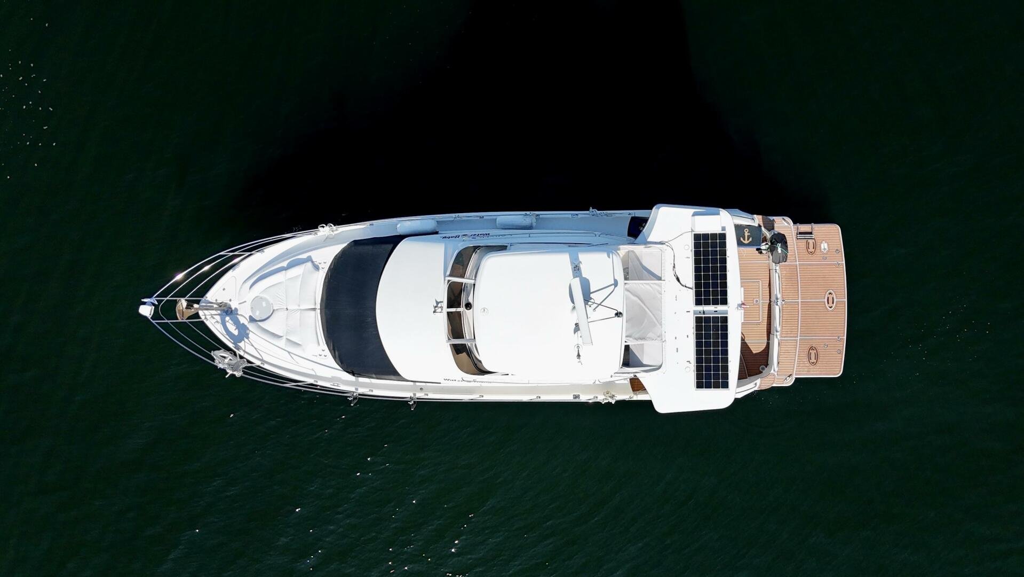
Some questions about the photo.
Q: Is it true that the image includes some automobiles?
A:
No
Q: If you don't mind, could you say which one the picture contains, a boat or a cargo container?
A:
boat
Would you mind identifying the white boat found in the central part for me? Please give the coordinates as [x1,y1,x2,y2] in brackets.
[139,205,846,412]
